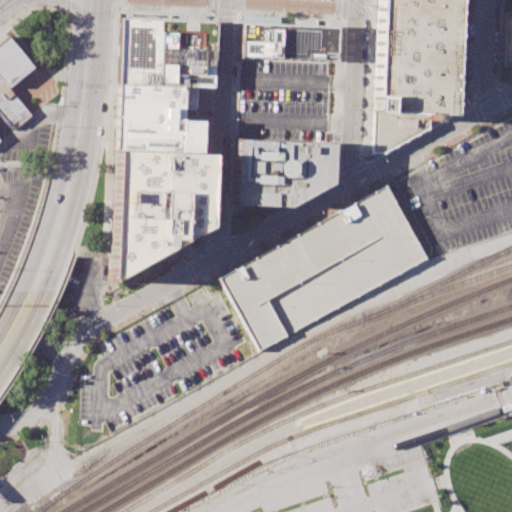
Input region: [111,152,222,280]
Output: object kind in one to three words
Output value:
building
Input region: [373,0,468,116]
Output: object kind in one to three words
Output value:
building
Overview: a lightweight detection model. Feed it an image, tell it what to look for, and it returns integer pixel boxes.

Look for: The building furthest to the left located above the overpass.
[0,38,36,128]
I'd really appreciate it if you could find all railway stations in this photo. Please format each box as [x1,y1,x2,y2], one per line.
[258,347,512,450]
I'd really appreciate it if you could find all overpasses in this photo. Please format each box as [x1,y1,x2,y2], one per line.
[0,257,79,400]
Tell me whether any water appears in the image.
No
